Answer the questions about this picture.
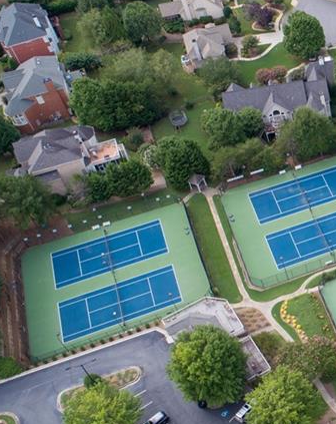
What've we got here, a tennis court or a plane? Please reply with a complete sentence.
I can see a tennis court in this picture.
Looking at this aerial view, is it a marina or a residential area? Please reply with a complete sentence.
It's a residential area.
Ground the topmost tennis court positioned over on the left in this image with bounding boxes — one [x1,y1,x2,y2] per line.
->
[51,219,168,288]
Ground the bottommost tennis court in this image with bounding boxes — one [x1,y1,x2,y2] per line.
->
[58,264,183,342]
